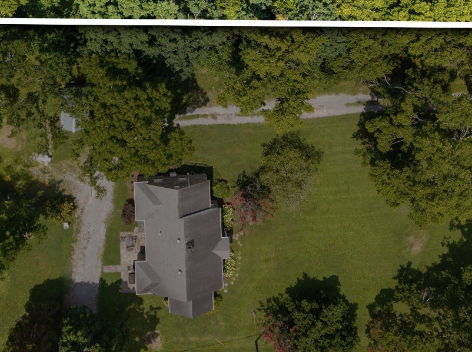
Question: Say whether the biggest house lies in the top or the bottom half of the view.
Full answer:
The biggest house is in the bottom half of the image.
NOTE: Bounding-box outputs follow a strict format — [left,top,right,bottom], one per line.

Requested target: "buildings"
[60,95,84,131]
[134,171,231,318]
